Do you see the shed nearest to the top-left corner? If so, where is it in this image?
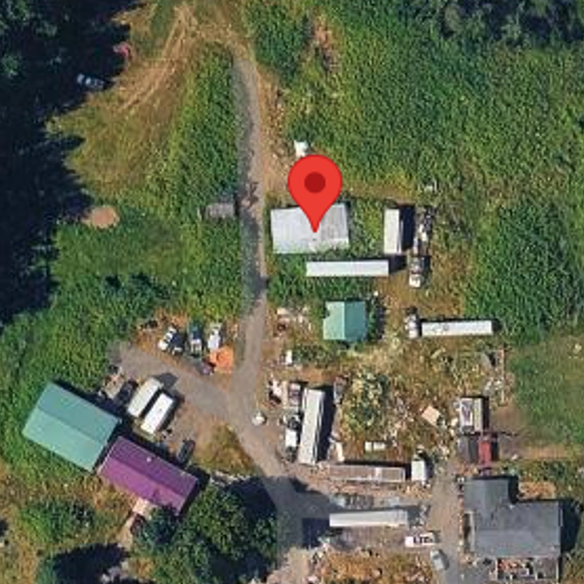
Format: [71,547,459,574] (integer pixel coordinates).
[200,202,235,218]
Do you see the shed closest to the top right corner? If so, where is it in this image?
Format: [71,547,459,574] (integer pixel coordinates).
[269,203,350,252]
